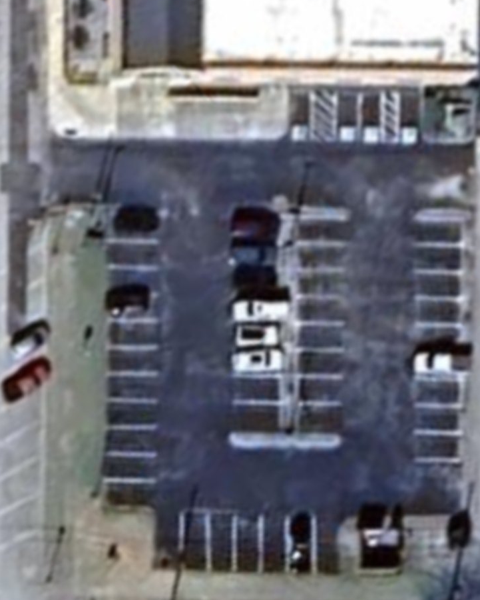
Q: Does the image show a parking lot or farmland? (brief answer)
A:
parking lot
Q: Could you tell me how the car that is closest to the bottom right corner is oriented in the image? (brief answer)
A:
up and down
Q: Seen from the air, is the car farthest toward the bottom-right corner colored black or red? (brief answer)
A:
black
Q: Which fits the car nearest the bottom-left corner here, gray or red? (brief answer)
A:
red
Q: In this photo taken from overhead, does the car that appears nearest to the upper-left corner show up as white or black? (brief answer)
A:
black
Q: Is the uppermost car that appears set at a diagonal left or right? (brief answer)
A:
left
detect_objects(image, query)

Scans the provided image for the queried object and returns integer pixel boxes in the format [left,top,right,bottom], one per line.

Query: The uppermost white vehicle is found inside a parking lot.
[232,294,288,320]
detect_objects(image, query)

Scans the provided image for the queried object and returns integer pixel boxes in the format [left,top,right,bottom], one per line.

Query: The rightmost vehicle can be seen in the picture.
[413,346,472,371]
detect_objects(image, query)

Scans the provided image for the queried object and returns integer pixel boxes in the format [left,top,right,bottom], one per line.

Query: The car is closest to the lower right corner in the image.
[289,516,313,568]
